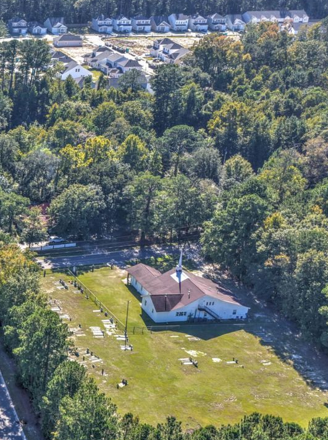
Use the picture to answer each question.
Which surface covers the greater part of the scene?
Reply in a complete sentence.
Most of the picture is covered by trees.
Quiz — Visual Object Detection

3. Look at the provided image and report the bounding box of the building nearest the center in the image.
[124,250,254,323]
